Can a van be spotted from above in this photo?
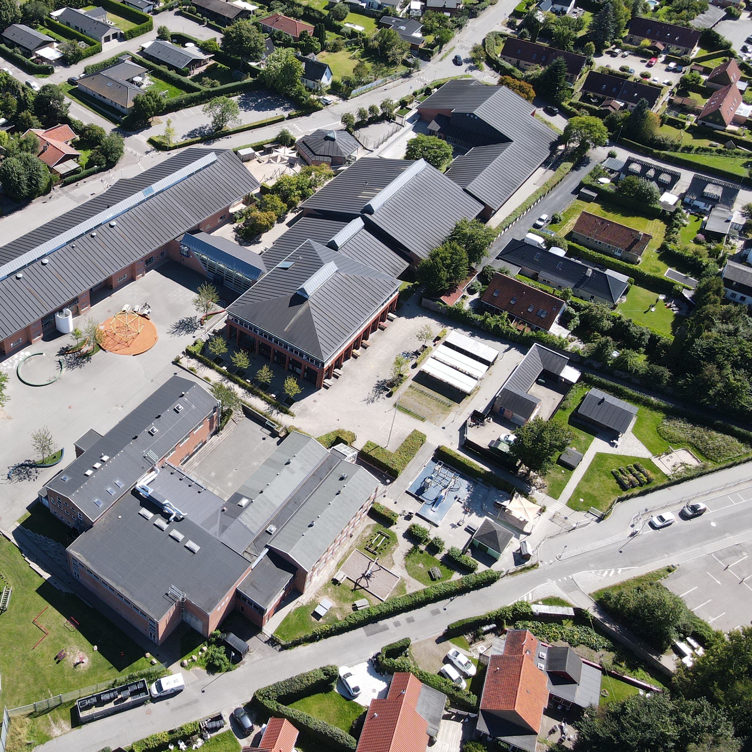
Yes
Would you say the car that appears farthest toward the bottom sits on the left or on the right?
left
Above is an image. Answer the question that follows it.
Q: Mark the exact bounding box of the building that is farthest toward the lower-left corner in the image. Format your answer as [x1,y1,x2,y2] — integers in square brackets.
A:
[75,681,150,725]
